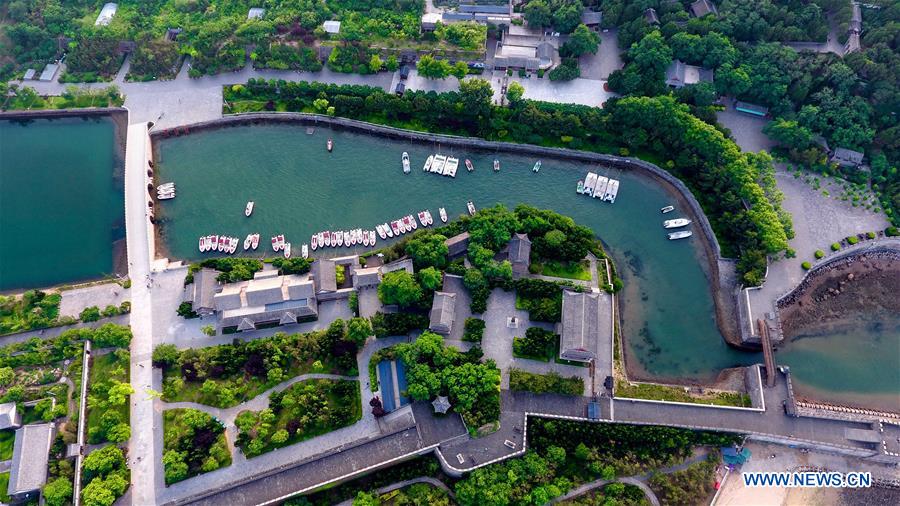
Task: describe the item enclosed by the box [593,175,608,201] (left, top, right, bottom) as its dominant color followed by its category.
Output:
white boat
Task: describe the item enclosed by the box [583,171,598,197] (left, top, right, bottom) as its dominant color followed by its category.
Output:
white boat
